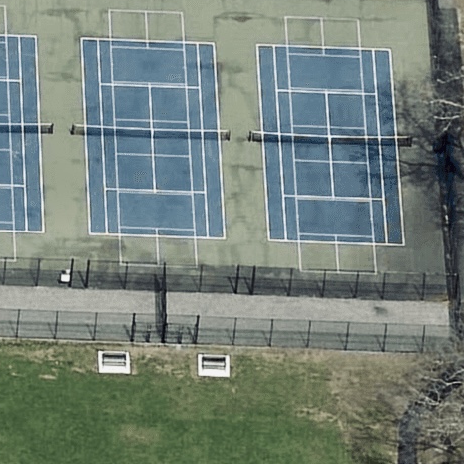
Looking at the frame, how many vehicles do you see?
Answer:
0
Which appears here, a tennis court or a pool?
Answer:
tennis court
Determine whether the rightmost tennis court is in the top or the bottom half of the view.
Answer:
top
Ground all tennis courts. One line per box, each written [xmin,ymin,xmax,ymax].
[81,10,226,269]
[0,6,45,263]
[258,16,405,276]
